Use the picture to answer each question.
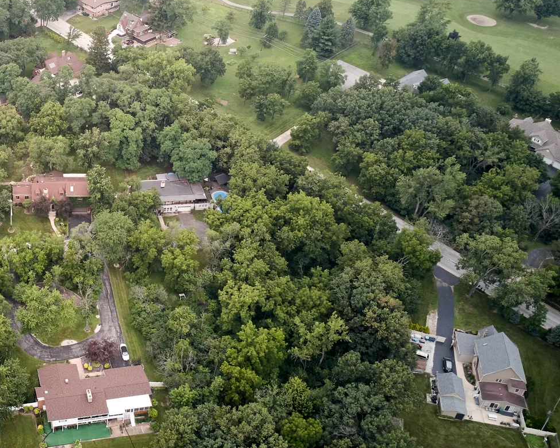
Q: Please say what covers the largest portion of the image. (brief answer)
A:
trees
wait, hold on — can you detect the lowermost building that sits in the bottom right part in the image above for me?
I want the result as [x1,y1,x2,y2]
[429,369,467,421]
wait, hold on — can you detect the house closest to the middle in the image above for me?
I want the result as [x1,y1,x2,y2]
[132,174,216,213]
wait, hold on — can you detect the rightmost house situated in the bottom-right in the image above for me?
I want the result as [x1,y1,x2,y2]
[449,316,528,412]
